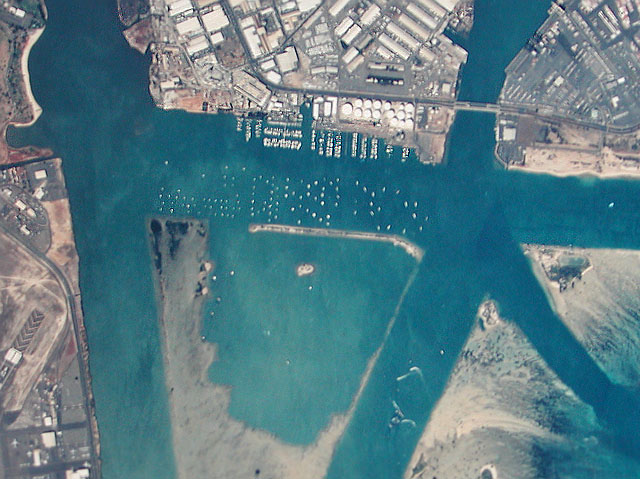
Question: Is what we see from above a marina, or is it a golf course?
marina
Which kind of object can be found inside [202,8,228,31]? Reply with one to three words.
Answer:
building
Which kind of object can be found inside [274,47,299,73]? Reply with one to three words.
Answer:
building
